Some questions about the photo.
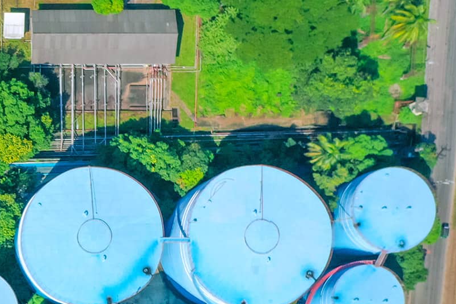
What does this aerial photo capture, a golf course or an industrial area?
industrial area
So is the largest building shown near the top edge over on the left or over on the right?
left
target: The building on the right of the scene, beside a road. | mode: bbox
[404,99,430,118]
